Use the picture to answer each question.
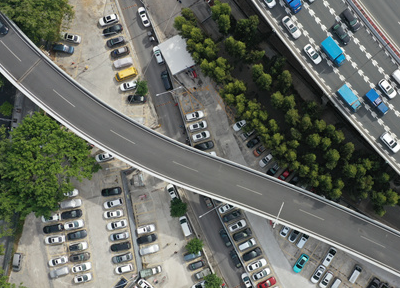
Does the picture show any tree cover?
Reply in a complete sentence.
Yes, tree cover can be seen from above here.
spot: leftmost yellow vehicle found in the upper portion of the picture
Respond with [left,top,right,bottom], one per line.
[115,67,139,81]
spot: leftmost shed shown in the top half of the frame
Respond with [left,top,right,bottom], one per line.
[158,35,199,78]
